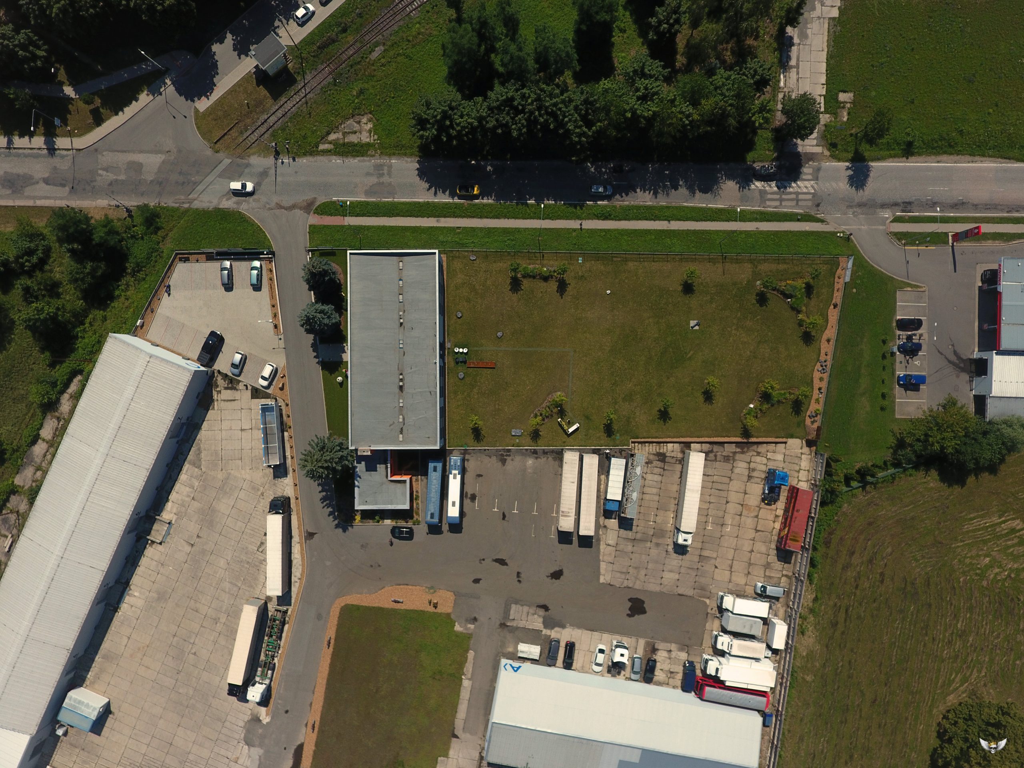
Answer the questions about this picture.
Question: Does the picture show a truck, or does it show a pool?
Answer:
truck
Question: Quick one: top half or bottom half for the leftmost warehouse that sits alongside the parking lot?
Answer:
bottom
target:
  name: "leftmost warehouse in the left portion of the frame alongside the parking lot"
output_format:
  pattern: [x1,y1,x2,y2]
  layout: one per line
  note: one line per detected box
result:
[0,333,210,768]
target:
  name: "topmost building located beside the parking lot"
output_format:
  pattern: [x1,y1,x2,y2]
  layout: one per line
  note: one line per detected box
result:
[347,250,447,455]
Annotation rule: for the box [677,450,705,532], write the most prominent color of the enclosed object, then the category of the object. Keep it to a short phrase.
white trailer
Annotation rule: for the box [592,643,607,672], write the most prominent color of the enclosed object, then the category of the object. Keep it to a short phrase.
white car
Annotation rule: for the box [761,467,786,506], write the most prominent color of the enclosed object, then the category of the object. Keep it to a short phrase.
blue truck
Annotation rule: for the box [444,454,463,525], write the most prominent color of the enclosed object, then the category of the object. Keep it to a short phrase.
white vehicle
